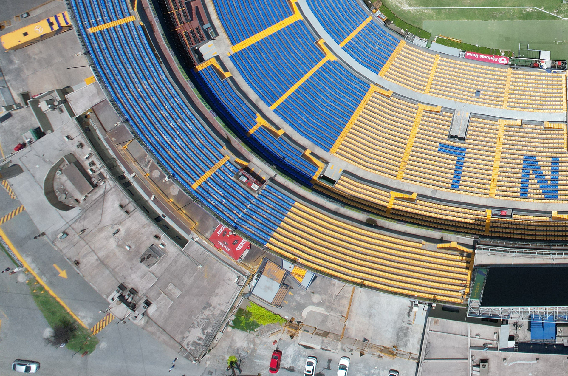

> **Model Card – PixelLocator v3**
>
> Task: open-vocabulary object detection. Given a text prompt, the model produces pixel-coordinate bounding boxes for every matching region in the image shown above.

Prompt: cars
[389,370,399,376]
[337,358,349,376]
[11,359,37,374]
[267,350,282,374]
[303,357,316,376]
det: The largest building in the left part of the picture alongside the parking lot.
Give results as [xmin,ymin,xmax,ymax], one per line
[1,130,254,365]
